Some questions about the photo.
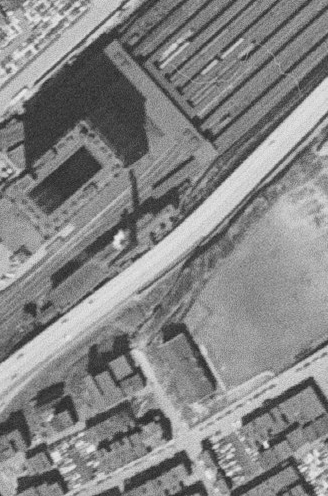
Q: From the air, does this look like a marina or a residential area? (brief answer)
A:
residential area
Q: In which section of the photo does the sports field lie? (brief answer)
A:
right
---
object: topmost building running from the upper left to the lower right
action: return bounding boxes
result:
[105,39,217,167]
